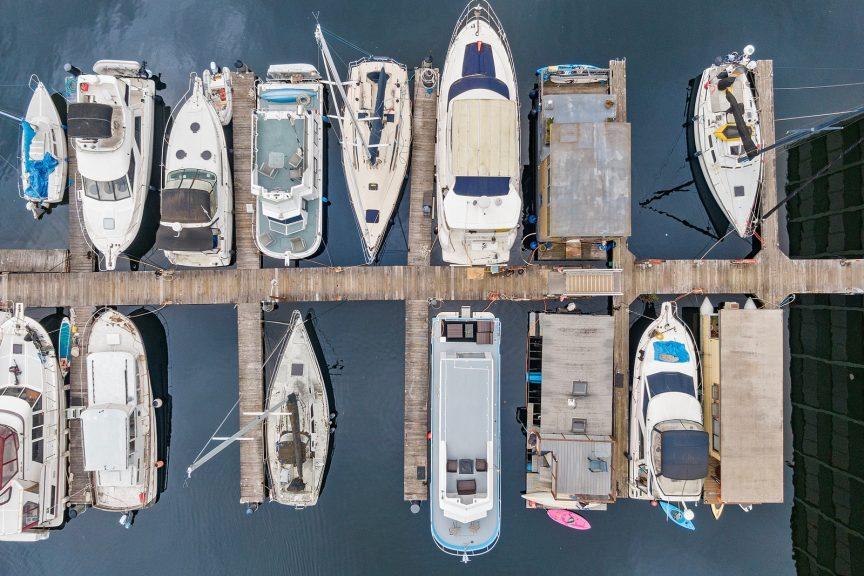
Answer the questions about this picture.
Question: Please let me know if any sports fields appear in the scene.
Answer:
No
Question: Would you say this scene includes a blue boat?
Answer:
Yes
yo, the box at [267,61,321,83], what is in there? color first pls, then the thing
white boat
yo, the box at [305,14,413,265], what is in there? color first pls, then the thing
white boat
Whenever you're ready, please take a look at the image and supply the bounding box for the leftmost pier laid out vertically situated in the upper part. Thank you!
[69,137,96,272]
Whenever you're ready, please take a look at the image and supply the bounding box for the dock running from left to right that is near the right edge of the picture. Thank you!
[633,260,864,295]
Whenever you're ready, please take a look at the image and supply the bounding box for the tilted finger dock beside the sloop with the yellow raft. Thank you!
[754,61,778,261]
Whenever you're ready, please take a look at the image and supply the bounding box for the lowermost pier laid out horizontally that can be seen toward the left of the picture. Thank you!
[0,264,606,307]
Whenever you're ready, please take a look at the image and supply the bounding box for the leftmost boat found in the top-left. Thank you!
[0,75,70,218]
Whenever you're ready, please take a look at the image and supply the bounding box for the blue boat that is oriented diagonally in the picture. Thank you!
[660,503,696,531]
